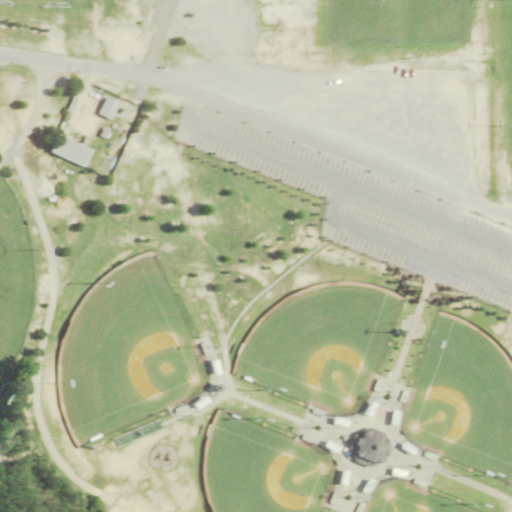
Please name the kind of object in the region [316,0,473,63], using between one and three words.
sports field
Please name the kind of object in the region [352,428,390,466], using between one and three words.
building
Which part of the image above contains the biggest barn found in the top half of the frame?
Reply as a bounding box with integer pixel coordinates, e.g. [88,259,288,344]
[52,140,94,172]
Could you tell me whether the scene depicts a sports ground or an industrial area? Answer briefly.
sports ground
